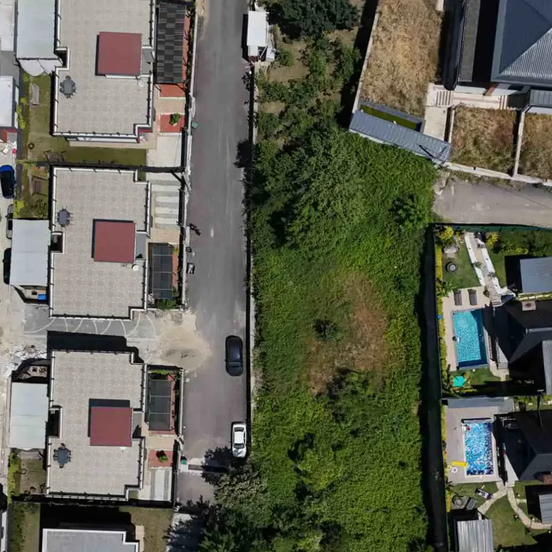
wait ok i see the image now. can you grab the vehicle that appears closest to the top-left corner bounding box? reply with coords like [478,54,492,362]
[0,164,18,200]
